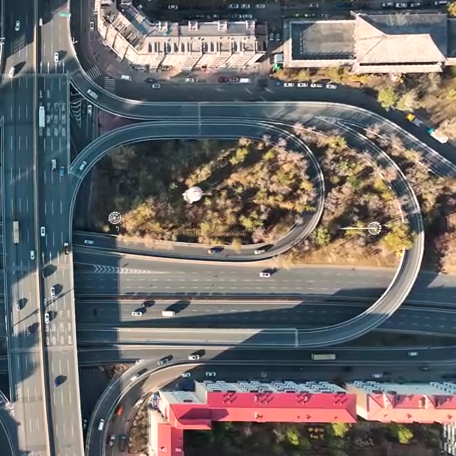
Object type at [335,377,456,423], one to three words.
building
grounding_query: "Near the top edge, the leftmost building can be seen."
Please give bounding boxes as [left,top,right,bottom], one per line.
[87,0,269,71]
